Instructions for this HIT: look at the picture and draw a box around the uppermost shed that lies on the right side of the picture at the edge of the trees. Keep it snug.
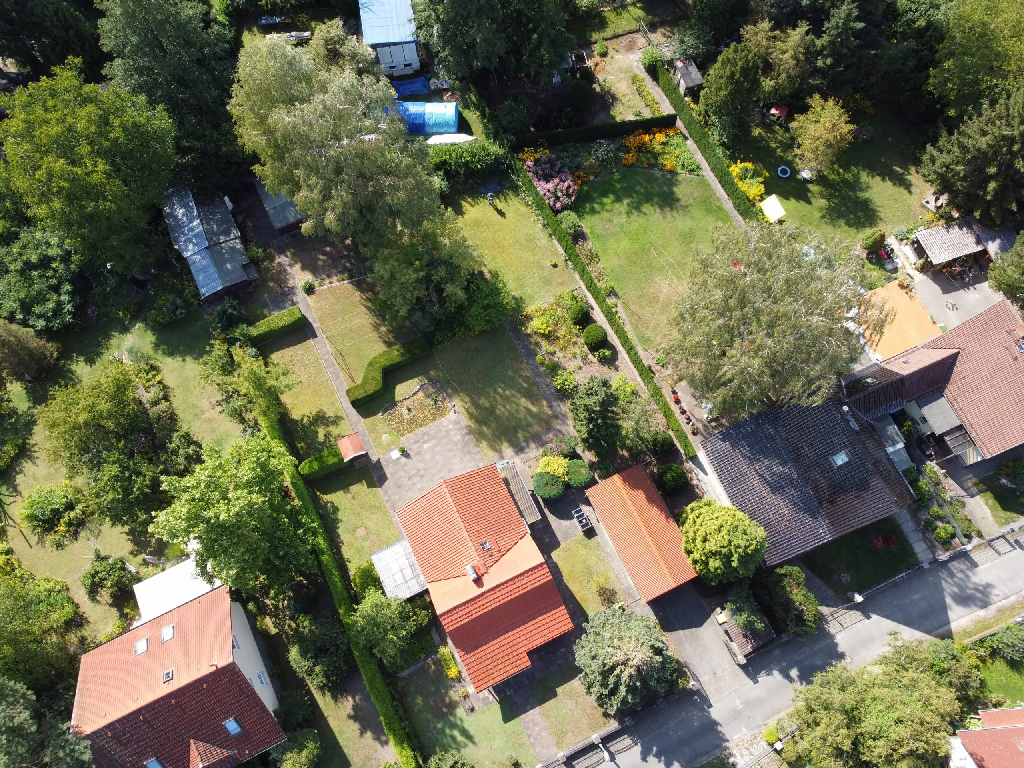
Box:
[671,59,703,100]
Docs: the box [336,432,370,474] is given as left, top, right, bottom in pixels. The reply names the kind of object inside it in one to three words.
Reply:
shed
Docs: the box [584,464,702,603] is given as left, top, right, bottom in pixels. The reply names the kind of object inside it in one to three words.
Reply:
building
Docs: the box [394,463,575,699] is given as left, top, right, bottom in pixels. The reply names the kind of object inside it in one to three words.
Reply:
house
